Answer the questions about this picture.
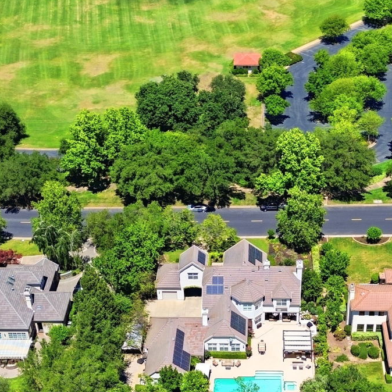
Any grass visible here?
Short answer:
Yes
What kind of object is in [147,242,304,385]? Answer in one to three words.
house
